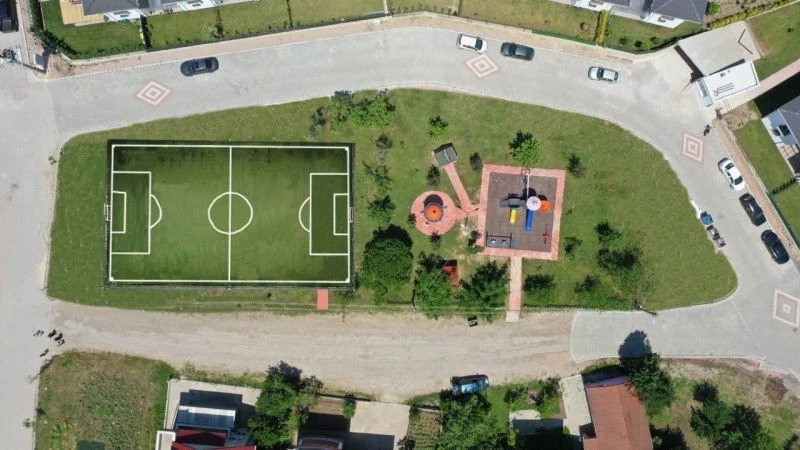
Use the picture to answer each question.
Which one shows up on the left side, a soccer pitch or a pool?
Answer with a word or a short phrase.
soccer pitch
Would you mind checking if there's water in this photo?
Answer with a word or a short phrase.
No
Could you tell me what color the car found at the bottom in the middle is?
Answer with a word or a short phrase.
blue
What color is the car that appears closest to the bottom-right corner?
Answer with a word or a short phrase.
black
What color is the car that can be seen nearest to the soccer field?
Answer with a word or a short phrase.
black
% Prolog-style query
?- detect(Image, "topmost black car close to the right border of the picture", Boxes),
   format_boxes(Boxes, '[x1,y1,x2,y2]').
[737,191,767,227]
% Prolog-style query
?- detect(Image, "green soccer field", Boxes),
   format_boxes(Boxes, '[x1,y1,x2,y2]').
[107,141,353,289]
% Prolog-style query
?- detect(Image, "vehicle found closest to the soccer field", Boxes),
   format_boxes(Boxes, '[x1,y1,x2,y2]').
[180,55,219,77]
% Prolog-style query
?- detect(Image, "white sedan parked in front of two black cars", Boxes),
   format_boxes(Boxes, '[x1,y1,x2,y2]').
[717,157,747,191]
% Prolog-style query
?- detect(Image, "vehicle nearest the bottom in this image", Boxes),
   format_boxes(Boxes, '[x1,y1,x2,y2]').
[452,376,488,395]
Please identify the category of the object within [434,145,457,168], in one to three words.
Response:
building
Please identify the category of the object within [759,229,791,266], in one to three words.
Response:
car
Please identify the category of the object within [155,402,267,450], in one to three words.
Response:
house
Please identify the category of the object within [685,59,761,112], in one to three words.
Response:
building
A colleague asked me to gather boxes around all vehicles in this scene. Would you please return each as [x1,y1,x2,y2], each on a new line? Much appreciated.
[0,0,19,32]
[500,41,536,62]
[759,229,791,266]
[180,55,219,77]
[737,191,767,227]
[455,34,488,54]
[717,157,747,191]
[587,65,620,84]
[452,376,488,395]
[0,49,17,58]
